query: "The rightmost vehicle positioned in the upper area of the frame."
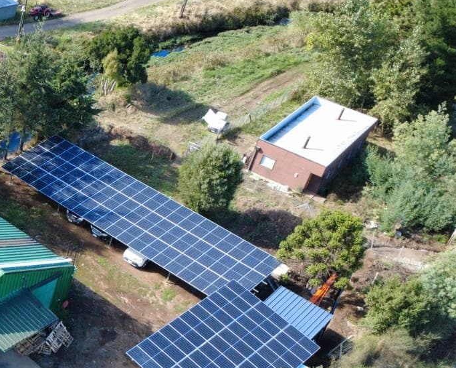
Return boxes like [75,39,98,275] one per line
[203,110,242,136]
